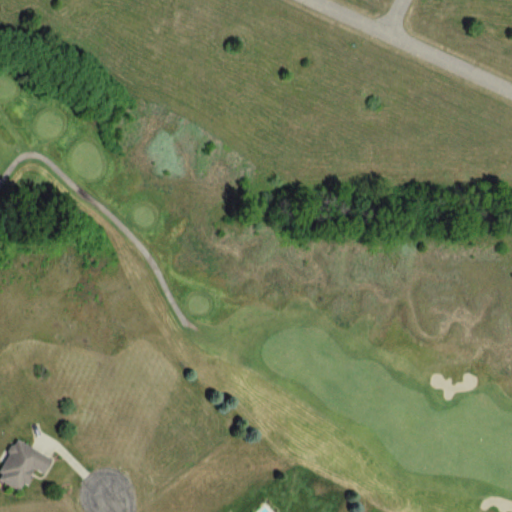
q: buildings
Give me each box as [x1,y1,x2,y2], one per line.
[0,440,52,492]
